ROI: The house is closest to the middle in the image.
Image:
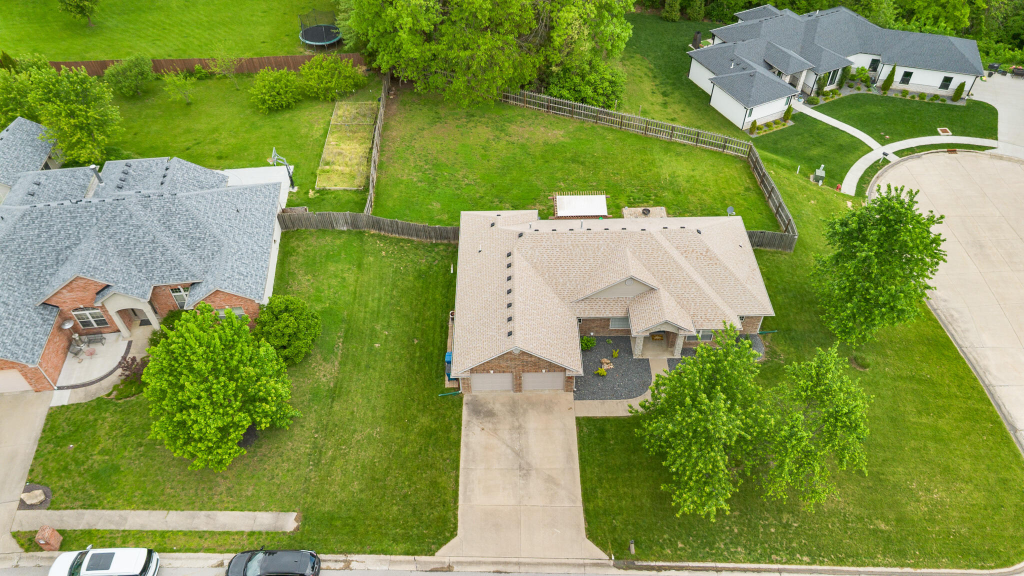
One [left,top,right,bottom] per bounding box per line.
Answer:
[448,209,777,397]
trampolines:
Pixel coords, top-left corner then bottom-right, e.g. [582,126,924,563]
[293,12,342,53]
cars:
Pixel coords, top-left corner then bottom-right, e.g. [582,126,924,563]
[226,546,322,576]
[52,545,161,576]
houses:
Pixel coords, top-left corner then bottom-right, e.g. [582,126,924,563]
[686,4,986,130]
[0,117,284,396]
[448,209,777,397]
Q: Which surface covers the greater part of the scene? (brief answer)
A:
grass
